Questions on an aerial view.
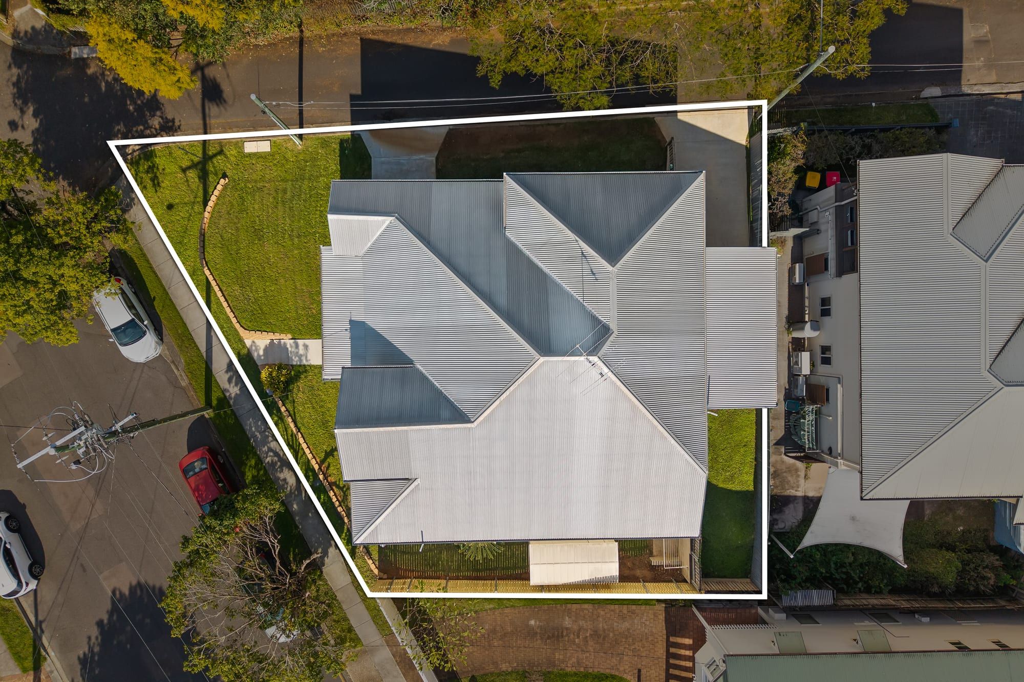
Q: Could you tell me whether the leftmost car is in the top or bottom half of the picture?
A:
bottom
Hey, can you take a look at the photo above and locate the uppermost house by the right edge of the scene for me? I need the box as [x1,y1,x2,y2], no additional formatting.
[797,152,1024,502]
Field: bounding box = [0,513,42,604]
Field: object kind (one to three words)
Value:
car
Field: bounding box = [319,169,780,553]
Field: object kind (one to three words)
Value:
house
